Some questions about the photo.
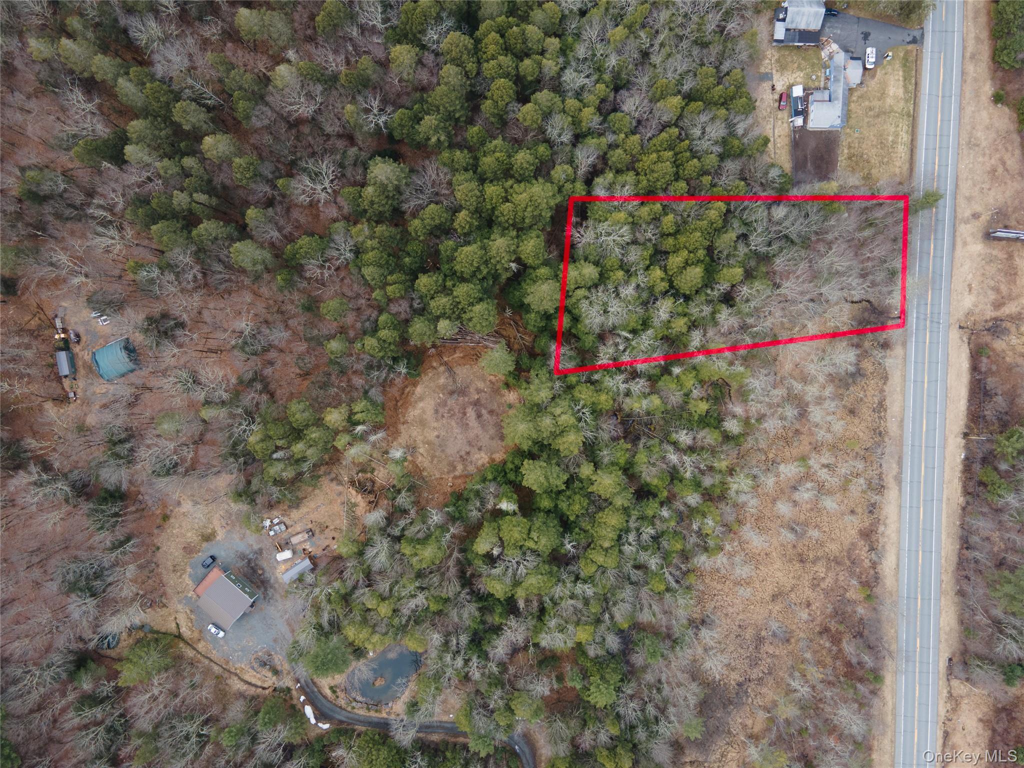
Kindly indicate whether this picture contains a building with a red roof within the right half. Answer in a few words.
No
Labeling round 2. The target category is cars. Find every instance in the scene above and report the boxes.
[864,47,875,69]
[777,93,786,111]
[207,622,226,638]
[200,553,219,569]
[824,7,840,19]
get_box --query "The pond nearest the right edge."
[347,645,421,703]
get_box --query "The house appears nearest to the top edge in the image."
[772,0,826,46]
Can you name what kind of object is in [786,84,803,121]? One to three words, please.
shed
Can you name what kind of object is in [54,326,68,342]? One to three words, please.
work vehicle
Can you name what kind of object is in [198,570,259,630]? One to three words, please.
house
